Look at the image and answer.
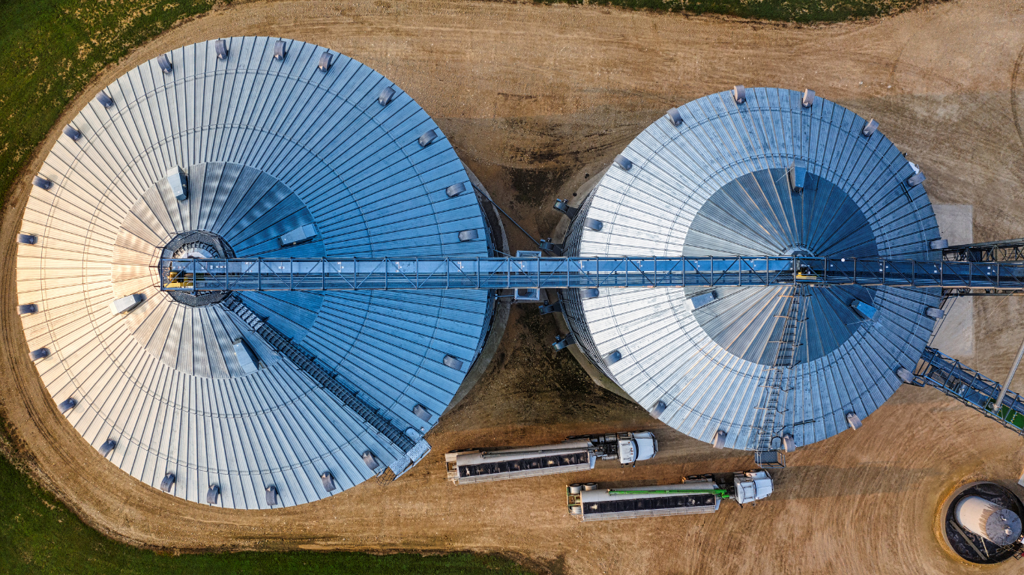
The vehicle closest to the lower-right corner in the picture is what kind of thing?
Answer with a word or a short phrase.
truck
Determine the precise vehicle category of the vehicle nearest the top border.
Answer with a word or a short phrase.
truck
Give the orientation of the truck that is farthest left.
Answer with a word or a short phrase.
from left to right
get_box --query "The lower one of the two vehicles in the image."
[564,471,778,521]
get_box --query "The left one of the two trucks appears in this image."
[440,429,659,484]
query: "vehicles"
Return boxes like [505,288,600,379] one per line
[564,471,778,521]
[440,429,659,484]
